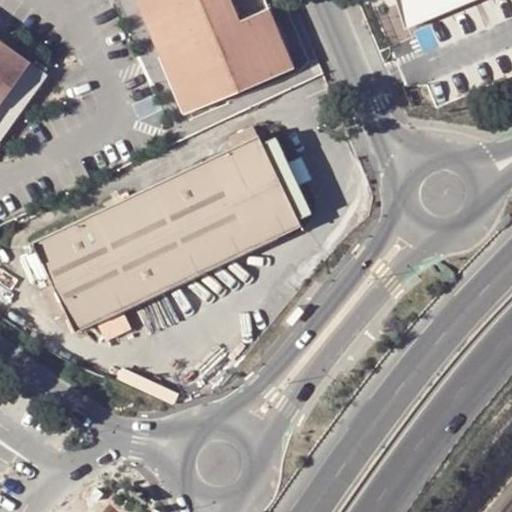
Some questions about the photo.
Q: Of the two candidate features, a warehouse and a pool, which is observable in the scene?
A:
warehouse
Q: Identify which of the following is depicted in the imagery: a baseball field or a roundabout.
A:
roundabout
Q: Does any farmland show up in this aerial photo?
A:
No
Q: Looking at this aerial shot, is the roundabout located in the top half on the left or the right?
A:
right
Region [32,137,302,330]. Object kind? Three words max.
warehouse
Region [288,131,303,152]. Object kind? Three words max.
vehicle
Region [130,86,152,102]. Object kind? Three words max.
car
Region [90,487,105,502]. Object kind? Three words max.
umbrella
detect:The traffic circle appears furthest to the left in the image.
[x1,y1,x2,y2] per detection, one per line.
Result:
[165,410,273,512]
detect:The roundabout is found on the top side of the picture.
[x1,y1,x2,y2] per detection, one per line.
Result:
[390,140,496,246]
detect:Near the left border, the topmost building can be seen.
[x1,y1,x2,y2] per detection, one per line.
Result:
[0,40,48,147]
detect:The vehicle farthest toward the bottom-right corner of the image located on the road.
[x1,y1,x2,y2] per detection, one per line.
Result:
[446,412,467,434]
